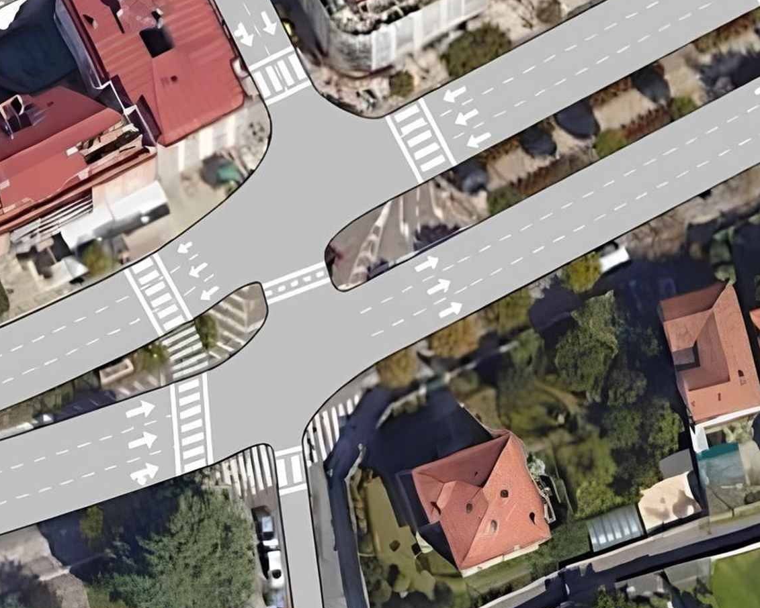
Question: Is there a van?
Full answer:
Yes, there's a van here.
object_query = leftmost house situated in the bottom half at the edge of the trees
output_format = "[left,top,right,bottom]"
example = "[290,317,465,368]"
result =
[413,428,552,574]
